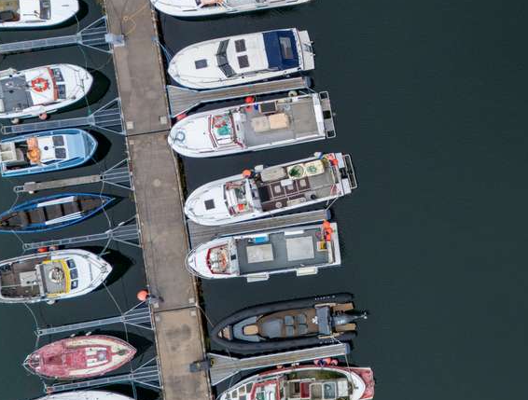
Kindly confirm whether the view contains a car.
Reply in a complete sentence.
No, I can't see a single car in this photo.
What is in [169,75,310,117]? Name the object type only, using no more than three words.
pier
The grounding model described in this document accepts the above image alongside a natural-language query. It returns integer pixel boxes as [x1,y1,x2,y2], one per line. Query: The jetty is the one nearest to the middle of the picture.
[188,209,333,249]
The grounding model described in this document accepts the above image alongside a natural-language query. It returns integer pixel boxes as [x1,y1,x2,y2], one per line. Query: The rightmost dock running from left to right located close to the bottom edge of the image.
[210,342,352,385]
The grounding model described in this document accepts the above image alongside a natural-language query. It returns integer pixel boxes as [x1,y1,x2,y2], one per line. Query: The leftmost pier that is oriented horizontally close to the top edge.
[0,17,112,54]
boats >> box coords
[0,250,115,306]
[0,191,117,233]
[165,91,337,156]
[151,0,307,17]
[20,333,138,380]
[0,0,81,30]
[0,129,99,176]
[183,153,357,222]
[213,292,367,350]
[219,365,375,400]
[0,68,95,119]
[183,223,344,282]
[165,27,316,87]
